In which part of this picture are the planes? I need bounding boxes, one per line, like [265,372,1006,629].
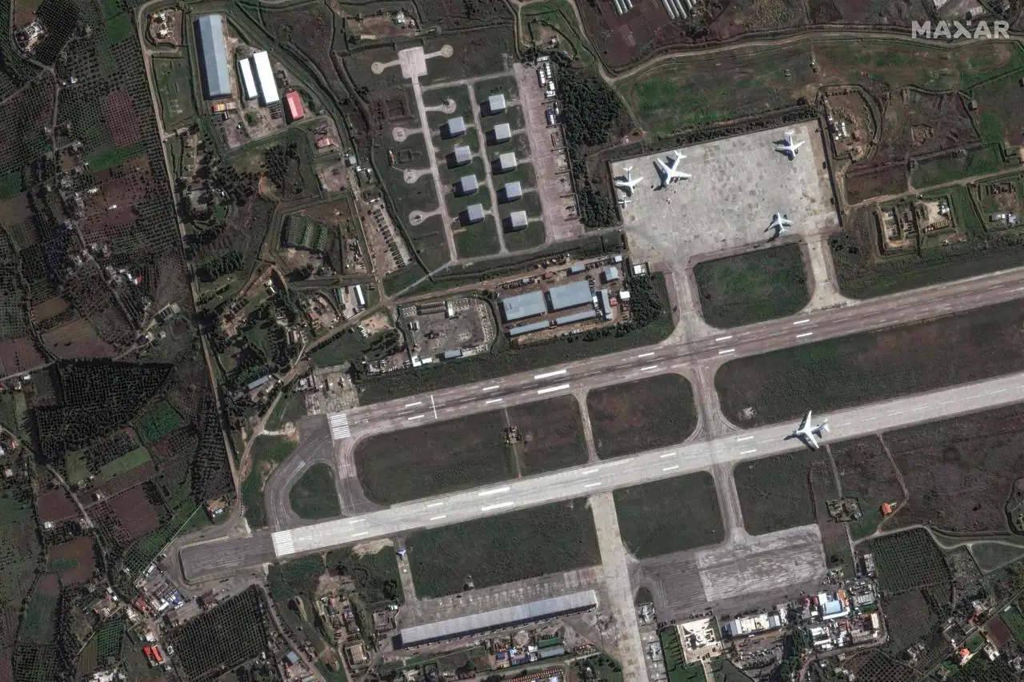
[399,545,408,558]
[650,644,659,657]
[617,166,643,194]
[769,213,794,235]
[797,410,832,444]
[778,131,806,156]
[642,607,651,622]
[657,150,693,186]
[619,196,632,208]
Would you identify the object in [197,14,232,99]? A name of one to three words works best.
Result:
hangar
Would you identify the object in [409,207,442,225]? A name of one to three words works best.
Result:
helipad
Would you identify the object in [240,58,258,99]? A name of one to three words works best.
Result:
shed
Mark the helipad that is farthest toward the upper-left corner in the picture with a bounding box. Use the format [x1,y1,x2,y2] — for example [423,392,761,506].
[370,60,401,74]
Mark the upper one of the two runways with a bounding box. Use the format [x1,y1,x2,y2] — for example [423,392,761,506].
[330,267,1024,441]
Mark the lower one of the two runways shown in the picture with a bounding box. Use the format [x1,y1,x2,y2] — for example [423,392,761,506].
[272,372,1024,557]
